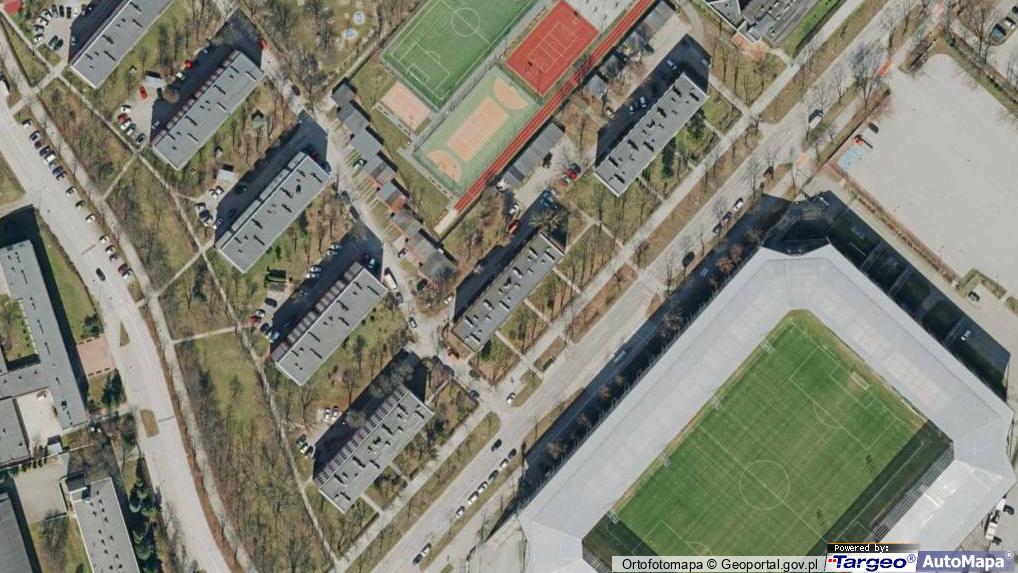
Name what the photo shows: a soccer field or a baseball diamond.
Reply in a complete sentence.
There is a soccer field in the scene.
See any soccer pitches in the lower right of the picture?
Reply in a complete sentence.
Yes, a soccer pitch shows up in the lower right of the picture.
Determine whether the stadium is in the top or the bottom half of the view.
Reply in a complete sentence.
The stadium sits in the bottom half of the picture.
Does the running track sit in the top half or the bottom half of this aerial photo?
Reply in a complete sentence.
The running track sits in the top half of the picture.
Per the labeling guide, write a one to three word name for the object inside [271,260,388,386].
building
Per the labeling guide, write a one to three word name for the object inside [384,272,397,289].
vehicle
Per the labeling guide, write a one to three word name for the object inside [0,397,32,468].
building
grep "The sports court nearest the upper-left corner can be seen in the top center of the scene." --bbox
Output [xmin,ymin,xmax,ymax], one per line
[380,81,431,131]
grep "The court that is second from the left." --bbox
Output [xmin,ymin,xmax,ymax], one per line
[414,66,540,195]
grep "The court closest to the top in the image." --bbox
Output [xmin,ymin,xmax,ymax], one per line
[506,0,600,96]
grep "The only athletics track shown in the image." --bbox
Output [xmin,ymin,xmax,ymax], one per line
[453,0,651,216]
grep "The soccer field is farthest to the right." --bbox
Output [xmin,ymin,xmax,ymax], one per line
[586,309,941,573]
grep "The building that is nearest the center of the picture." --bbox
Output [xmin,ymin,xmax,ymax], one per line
[452,230,565,351]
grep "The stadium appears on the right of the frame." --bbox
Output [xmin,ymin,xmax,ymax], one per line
[512,235,1018,573]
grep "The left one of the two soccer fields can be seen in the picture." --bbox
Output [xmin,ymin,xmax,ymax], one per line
[382,0,535,108]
